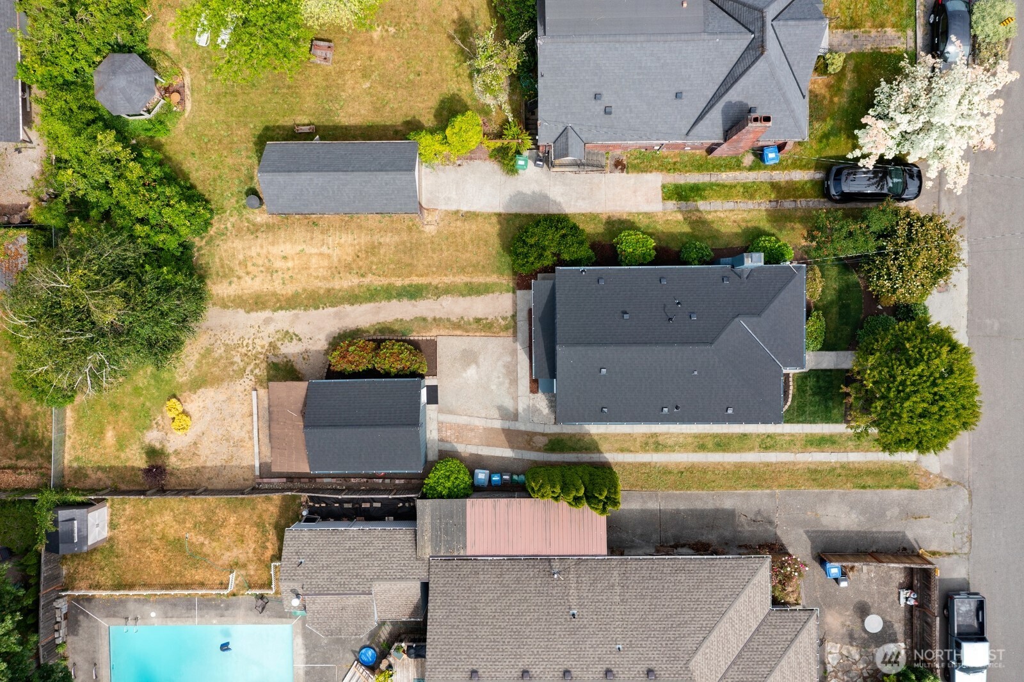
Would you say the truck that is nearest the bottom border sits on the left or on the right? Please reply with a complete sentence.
It is on the right.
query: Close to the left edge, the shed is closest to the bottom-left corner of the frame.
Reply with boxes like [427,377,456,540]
[47,501,113,554]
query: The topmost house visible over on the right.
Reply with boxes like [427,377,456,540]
[521,0,839,175]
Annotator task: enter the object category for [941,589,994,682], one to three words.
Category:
truck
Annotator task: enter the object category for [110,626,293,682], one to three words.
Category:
swimming pool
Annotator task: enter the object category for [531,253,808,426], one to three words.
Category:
house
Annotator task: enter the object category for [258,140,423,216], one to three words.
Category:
building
